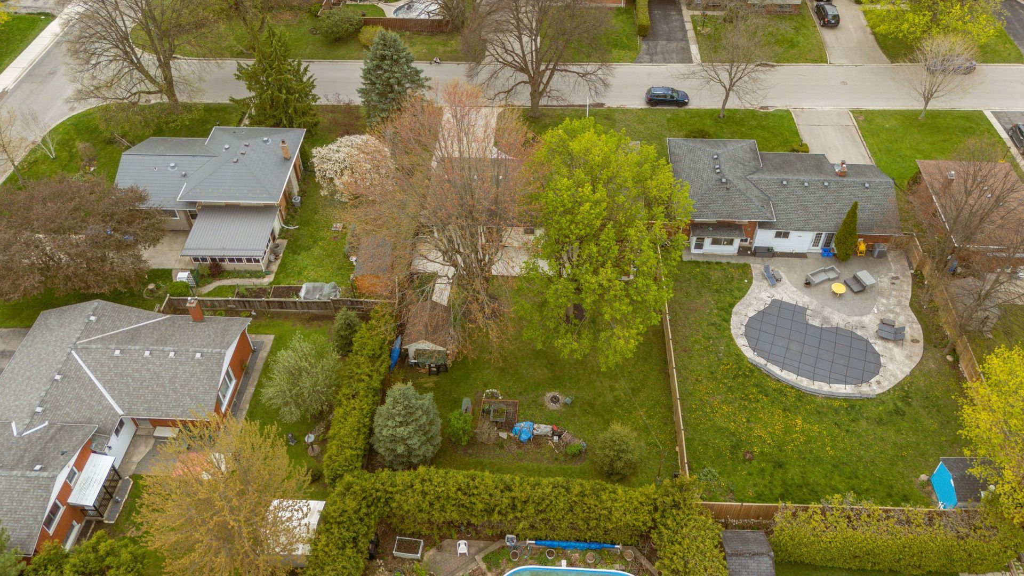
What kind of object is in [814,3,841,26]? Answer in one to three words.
car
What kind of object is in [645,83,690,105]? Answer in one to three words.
car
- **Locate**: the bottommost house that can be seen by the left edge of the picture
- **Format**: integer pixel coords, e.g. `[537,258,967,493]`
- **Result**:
[0,299,256,576]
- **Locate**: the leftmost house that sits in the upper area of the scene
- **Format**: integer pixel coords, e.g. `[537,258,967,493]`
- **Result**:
[114,126,307,278]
